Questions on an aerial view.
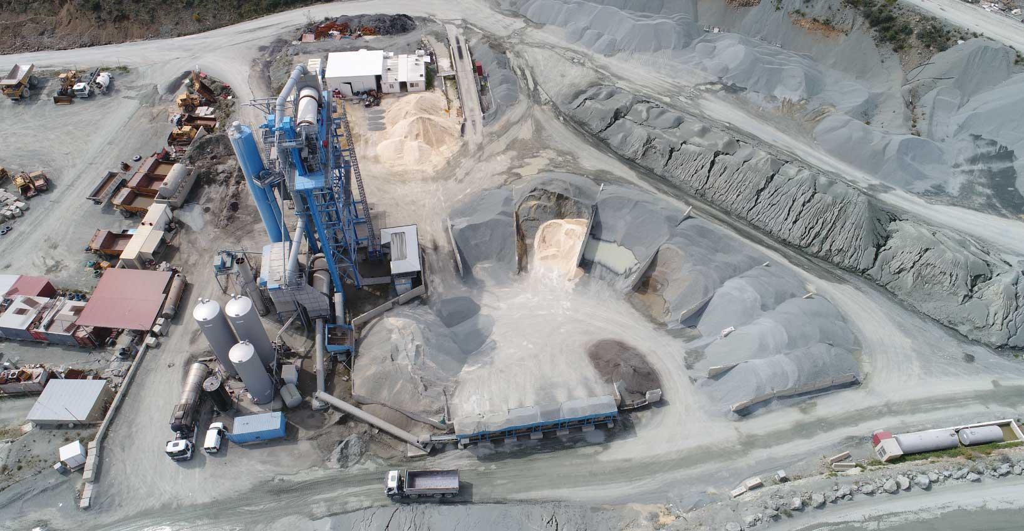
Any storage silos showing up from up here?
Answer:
Yes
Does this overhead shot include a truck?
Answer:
Yes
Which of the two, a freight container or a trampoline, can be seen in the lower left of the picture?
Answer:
freight container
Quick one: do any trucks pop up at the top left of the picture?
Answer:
Yes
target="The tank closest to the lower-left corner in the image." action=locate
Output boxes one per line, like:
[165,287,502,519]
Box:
[200,376,231,413]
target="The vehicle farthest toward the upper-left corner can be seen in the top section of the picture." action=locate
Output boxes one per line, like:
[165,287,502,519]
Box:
[0,64,37,100]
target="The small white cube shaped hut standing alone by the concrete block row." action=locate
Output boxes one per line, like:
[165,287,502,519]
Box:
[62,439,89,474]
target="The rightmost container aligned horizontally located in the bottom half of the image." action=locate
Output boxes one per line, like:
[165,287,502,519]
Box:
[216,410,291,446]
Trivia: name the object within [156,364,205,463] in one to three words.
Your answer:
truck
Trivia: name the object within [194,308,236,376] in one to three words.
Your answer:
silo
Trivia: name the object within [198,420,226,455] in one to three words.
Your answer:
van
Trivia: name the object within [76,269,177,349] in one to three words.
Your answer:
shed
